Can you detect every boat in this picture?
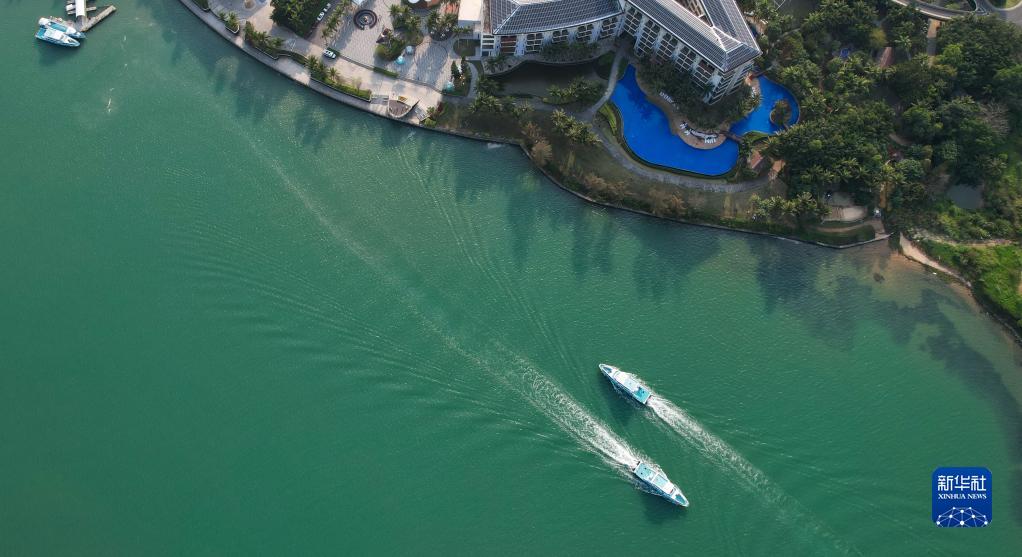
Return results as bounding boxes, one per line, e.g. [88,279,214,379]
[600,364,651,407]
[63,3,76,11]
[33,29,81,48]
[36,13,87,40]
[633,459,689,506]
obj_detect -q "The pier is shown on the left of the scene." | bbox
[53,0,119,35]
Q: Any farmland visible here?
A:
No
